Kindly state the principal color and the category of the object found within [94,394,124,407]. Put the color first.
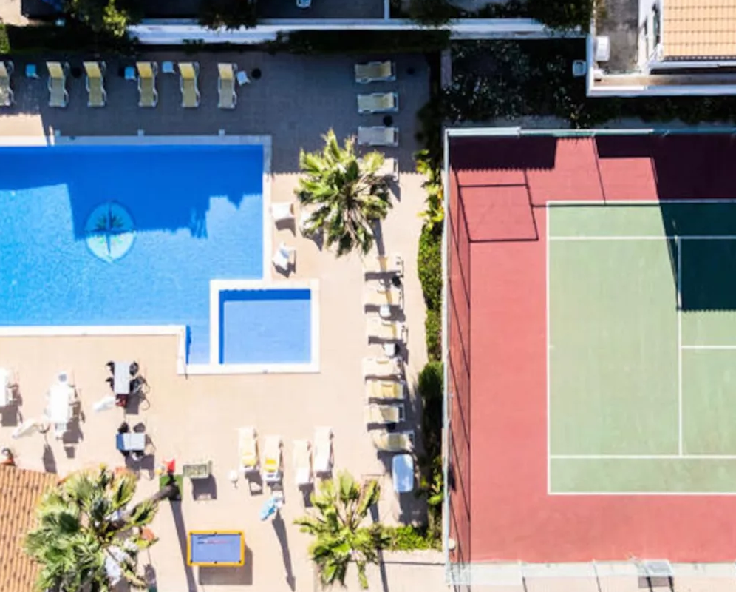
white umbrella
